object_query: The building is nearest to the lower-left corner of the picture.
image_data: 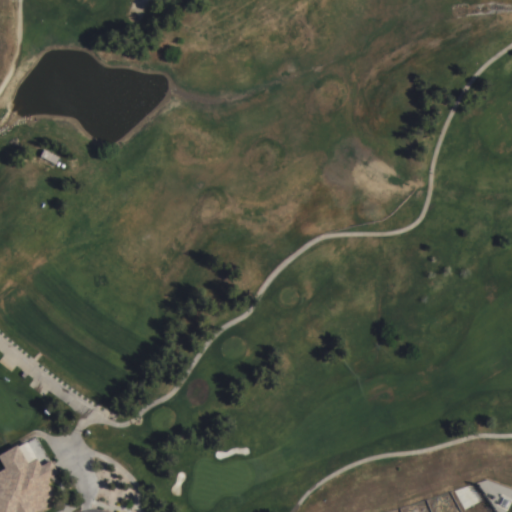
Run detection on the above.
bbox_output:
[0,438,54,512]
